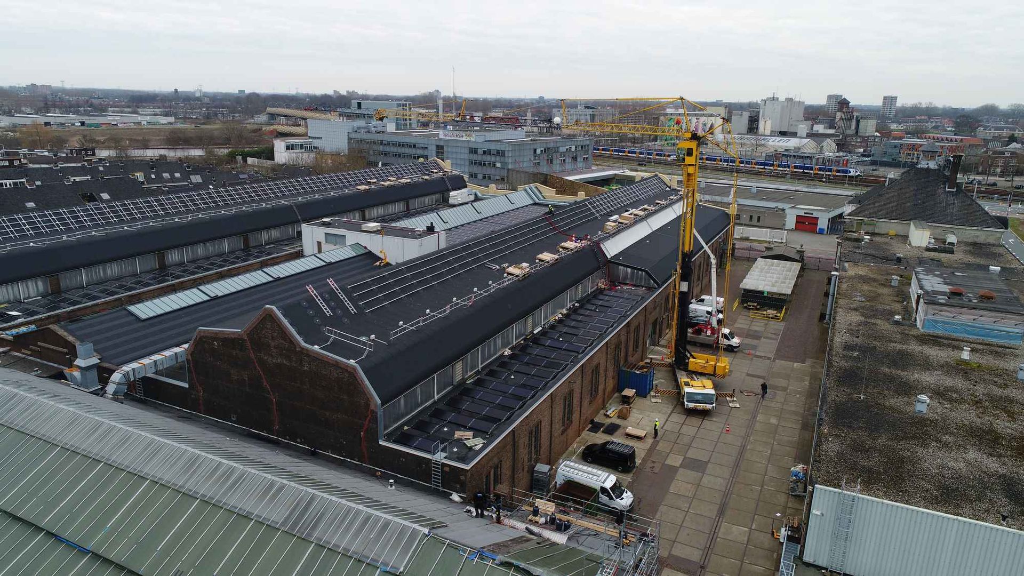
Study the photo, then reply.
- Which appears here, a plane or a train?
train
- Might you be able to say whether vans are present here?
Yes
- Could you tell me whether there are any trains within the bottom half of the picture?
No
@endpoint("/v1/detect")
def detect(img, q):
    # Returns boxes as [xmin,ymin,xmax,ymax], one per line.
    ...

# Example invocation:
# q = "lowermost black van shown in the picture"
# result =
[580,433,640,470]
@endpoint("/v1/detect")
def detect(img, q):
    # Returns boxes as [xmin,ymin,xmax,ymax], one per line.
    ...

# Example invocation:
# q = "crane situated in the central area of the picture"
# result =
[306,93,743,414]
